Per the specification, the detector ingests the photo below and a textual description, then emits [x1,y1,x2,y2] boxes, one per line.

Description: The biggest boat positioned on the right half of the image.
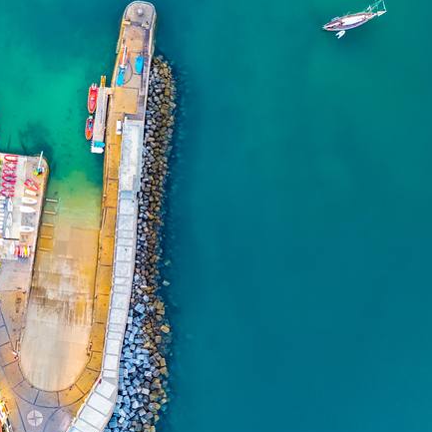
[322,5,389,31]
